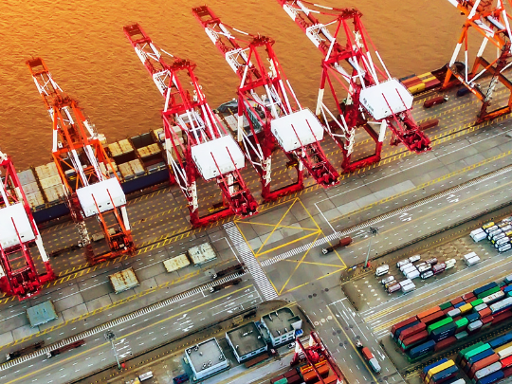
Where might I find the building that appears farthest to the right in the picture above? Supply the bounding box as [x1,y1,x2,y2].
[262,307,302,350]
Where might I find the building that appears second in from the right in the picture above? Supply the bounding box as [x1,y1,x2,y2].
[225,322,267,365]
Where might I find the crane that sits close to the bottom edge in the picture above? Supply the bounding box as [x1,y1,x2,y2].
[290,331,345,384]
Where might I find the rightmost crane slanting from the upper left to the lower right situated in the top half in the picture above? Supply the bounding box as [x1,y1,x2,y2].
[274,0,434,173]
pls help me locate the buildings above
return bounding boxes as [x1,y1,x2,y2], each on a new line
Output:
[225,322,267,365]
[185,339,226,382]
[262,307,302,350]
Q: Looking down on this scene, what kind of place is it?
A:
port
